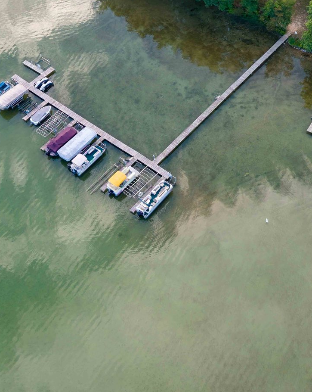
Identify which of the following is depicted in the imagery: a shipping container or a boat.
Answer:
boat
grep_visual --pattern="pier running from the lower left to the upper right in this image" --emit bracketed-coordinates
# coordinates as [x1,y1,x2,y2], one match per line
[150,34,292,166]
